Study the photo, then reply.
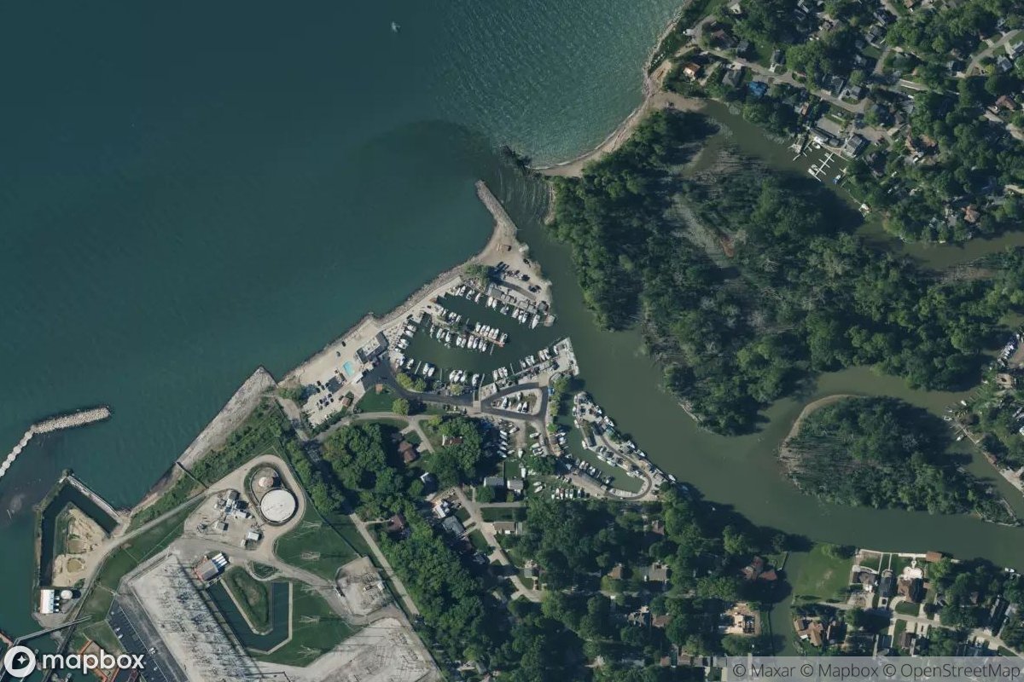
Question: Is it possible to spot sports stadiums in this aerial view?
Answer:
No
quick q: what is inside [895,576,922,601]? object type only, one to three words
house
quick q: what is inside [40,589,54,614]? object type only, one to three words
building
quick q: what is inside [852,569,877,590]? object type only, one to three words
house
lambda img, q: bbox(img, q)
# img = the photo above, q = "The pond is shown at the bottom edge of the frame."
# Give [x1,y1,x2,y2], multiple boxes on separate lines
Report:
[208,580,289,652]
